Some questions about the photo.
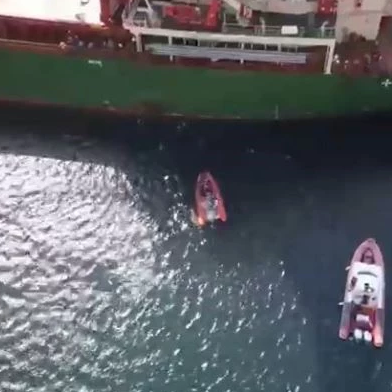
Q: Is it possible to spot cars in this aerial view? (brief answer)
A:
No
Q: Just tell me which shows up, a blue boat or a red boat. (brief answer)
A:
red boat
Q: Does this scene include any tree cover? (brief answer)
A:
No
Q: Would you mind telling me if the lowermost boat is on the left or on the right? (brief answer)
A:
right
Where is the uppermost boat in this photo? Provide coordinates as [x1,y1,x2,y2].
[160,1,204,22]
